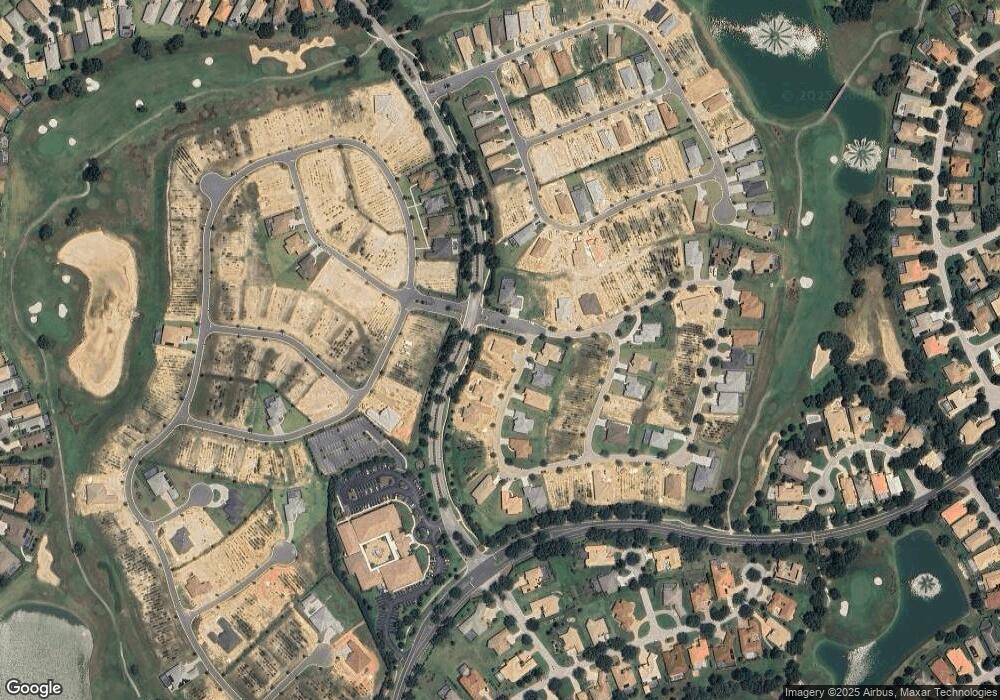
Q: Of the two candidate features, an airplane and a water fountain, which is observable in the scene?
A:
water fountain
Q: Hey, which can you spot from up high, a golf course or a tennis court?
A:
golf course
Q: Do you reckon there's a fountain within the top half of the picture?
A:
Yes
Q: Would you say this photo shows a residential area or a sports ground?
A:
residential area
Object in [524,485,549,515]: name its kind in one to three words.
house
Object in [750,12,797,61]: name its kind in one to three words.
fountain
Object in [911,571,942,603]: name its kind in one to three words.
fountain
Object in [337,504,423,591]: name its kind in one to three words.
building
